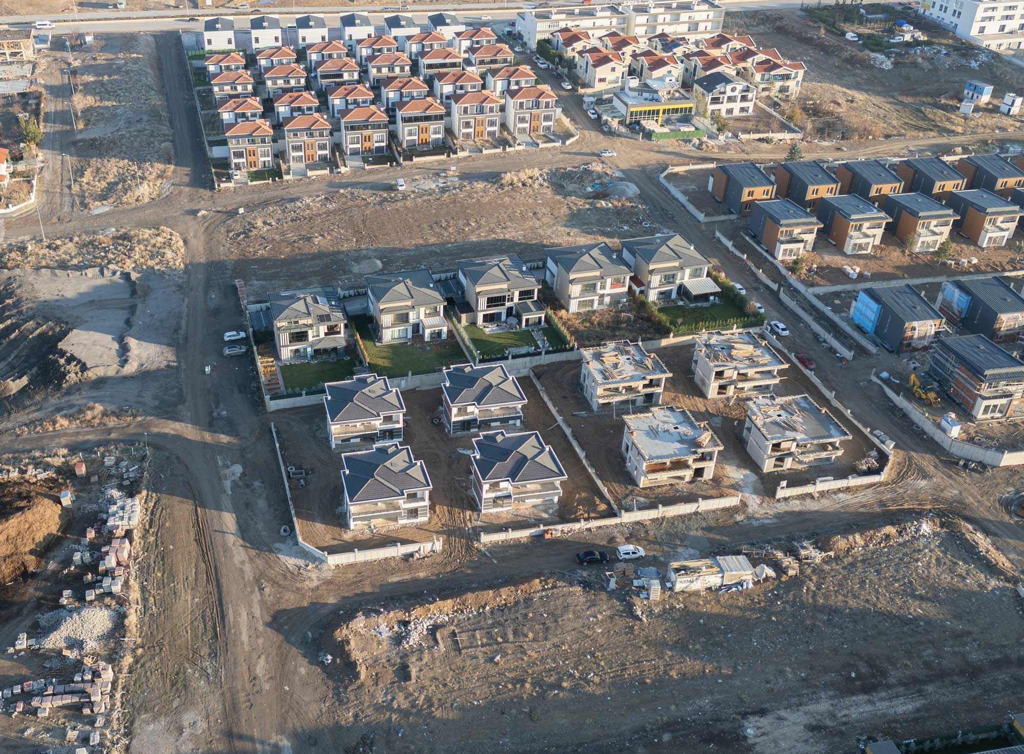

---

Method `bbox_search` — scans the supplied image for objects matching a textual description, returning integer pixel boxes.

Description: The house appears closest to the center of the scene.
[443,357,527,433]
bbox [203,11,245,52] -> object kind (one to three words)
building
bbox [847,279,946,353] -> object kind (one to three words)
house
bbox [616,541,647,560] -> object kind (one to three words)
vehicle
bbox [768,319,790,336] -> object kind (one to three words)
car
